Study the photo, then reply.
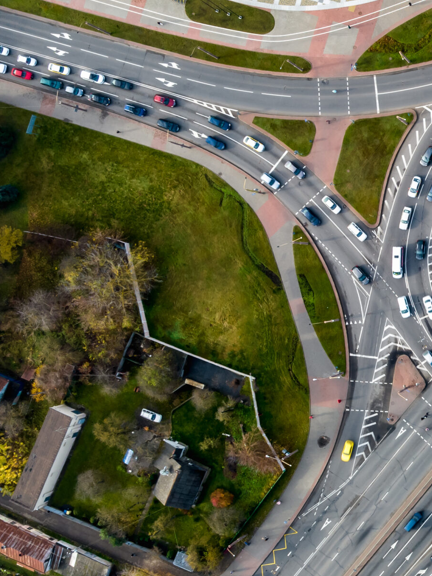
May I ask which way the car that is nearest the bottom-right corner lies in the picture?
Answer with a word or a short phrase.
at an angle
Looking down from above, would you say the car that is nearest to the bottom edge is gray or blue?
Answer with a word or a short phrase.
blue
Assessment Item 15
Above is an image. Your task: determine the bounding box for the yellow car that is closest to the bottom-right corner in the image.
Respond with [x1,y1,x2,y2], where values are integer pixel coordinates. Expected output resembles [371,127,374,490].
[341,439,354,462]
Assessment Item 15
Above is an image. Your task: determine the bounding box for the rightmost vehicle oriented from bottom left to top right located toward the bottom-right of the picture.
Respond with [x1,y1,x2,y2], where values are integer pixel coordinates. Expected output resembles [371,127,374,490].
[403,513,424,534]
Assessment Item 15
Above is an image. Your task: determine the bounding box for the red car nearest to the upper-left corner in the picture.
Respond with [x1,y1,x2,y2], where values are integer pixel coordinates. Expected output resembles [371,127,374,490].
[11,67,35,81]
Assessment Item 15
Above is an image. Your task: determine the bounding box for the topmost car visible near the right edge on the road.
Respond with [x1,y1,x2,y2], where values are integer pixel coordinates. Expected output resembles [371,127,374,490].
[419,145,432,166]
